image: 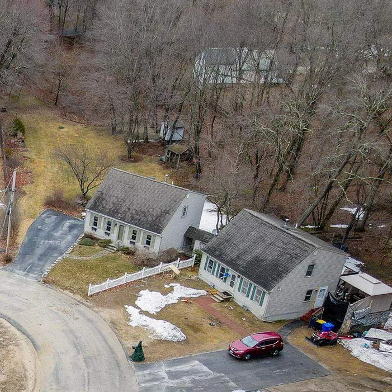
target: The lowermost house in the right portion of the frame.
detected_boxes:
[199,208,349,321]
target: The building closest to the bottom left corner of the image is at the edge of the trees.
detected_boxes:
[85,167,208,257]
